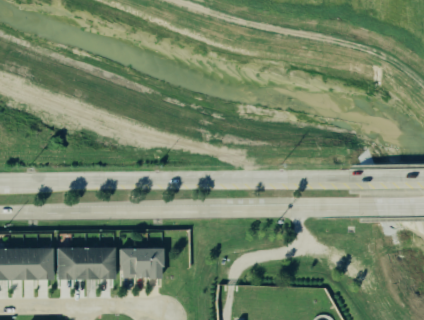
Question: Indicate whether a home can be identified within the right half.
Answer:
No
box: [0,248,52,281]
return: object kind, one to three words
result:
house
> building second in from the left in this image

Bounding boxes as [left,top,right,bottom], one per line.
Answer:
[56,248,114,281]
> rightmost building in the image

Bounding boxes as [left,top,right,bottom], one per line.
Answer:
[119,248,164,288]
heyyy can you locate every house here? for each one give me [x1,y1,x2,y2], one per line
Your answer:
[119,248,164,288]
[56,248,114,281]
[0,248,52,281]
